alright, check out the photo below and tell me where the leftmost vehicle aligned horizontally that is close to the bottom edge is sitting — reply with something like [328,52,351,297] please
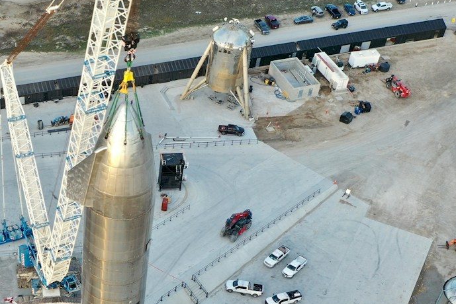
[225,280,263,297]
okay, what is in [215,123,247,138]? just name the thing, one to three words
vehicle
